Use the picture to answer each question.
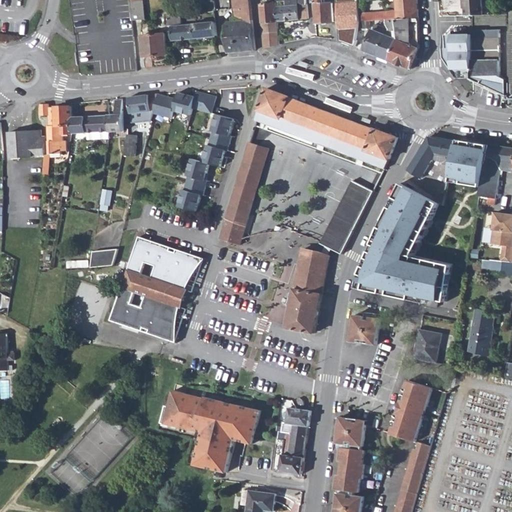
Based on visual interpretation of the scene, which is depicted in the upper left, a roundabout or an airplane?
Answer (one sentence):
Looking in the upper left, you will find a roundabout.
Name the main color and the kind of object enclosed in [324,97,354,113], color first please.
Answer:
white vehicle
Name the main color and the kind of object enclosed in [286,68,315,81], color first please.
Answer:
white vehicle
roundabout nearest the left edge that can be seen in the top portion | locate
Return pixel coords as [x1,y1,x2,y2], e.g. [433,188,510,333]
[2,49,50,97]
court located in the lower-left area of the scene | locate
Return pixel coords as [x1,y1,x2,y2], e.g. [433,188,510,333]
[45,413,135,500]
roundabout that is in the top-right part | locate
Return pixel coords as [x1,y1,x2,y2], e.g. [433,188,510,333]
[396,71,455,130]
